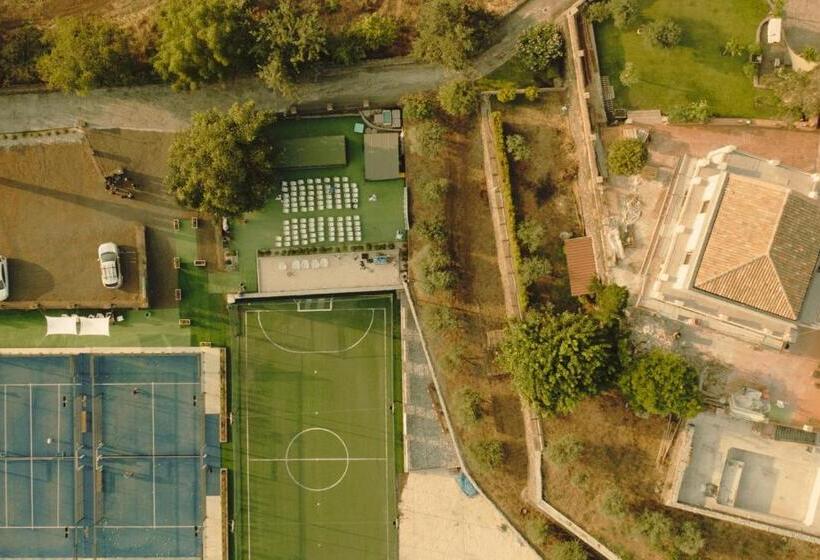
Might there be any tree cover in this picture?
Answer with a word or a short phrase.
Yes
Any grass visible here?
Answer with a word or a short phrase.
Yes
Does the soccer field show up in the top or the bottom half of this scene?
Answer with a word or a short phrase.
bottom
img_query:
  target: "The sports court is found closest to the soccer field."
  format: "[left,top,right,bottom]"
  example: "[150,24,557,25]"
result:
[92,354,205,560]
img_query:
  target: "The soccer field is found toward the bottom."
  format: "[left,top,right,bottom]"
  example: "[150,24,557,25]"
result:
[230,292,396,560]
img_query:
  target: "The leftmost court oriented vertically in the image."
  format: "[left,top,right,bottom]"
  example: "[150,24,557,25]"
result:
[0,354,82,560]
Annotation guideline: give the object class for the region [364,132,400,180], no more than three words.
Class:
shed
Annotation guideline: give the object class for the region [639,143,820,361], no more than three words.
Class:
house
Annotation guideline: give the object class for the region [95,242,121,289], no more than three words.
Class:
car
